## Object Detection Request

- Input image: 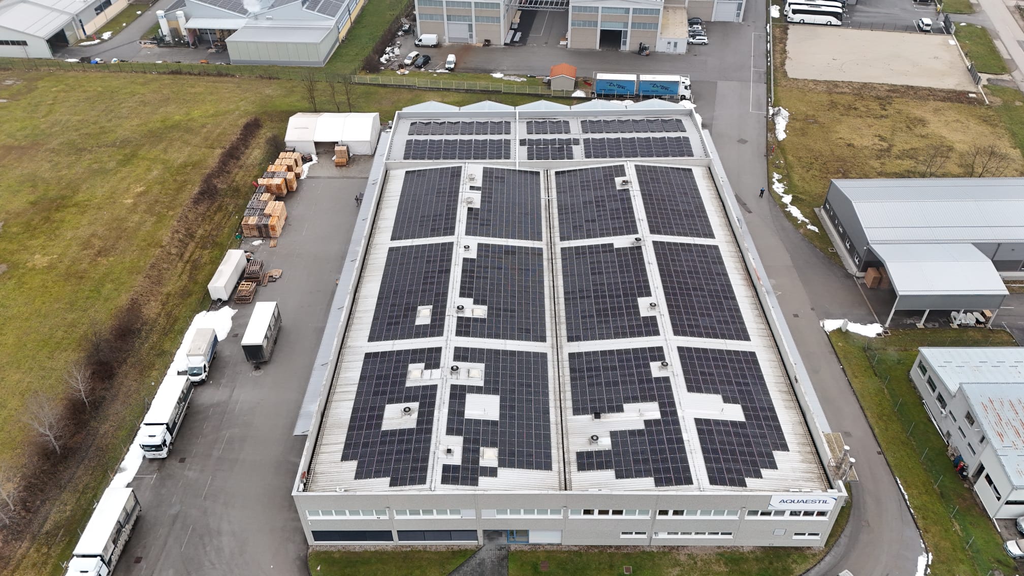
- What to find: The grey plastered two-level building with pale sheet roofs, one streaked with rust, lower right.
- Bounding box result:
[909,345,1024,528]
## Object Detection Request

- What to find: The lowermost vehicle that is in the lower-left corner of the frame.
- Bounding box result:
[70,488,142,576]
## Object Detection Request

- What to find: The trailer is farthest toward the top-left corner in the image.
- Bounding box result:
[207,248,248,312]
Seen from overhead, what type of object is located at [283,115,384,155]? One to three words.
tent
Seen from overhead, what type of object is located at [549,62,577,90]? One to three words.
shed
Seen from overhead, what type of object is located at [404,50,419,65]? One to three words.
car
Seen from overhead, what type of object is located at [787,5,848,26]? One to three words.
bus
